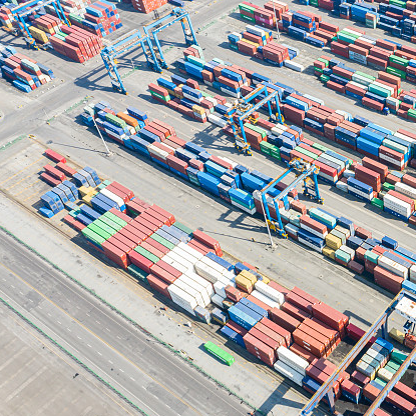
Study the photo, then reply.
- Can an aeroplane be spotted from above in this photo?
No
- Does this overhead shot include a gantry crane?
Yes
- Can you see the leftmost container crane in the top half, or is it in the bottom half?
top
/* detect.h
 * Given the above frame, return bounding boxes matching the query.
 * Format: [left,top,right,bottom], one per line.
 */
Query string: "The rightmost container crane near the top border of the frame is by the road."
[141,8,200,68]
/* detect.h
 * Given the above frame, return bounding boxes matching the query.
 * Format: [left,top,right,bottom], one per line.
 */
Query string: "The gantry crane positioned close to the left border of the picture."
[10,0,70,53]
